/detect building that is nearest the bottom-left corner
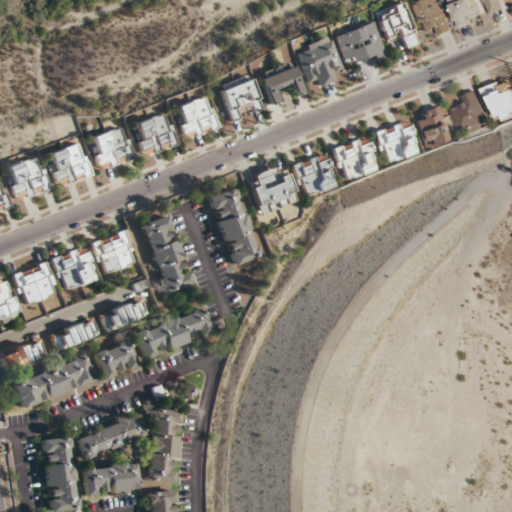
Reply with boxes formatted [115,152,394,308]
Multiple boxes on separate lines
[40,436,80,512]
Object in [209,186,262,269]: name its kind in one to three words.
building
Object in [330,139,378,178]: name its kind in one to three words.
house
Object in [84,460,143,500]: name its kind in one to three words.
building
